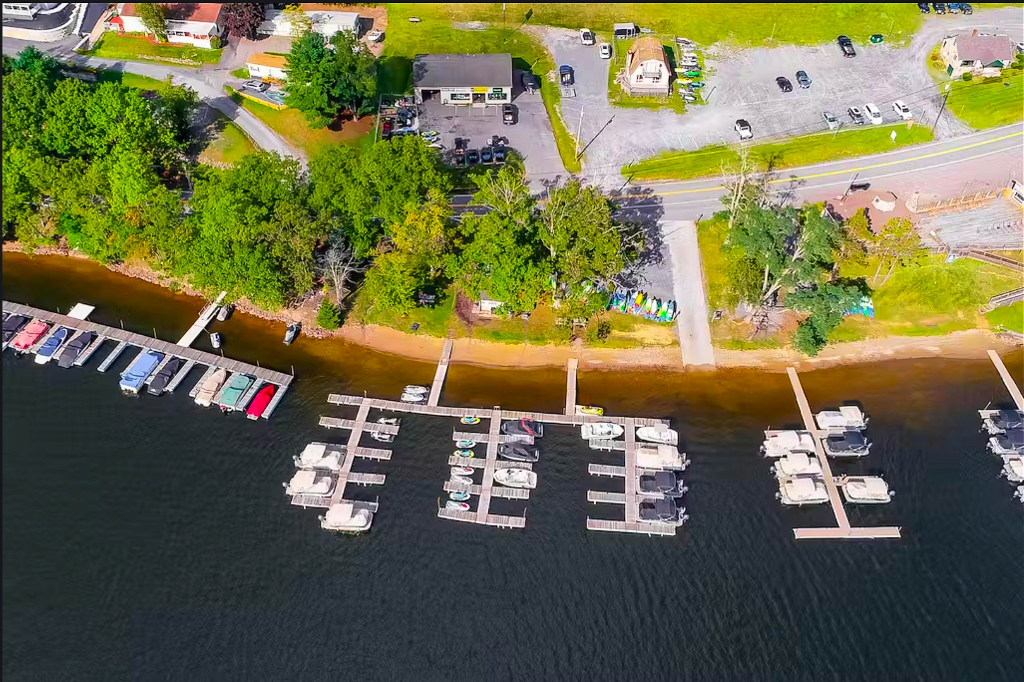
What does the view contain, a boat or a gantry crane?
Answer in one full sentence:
This aerial view contains a boat.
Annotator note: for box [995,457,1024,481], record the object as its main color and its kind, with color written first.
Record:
white boat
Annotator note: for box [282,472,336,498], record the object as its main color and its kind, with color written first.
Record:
white boat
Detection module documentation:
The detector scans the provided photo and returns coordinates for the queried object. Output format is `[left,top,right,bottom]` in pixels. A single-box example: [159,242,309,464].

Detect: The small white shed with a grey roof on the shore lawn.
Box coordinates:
[477,288,504,319]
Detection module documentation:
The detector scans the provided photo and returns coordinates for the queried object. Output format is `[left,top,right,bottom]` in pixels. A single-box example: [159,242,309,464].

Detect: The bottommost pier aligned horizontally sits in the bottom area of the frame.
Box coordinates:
[290,391,676,537]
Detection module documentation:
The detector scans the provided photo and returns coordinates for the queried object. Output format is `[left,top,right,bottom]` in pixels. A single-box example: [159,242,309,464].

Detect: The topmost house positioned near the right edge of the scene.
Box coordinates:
[932,28,1021,81]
